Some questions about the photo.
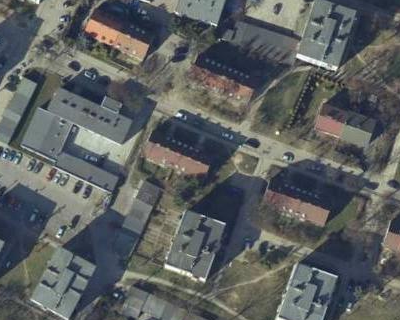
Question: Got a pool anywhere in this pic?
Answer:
No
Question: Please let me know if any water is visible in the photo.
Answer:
No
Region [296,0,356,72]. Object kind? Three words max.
building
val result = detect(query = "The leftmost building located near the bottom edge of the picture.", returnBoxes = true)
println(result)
[32,245,96,320]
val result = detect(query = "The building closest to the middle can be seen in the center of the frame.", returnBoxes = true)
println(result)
[144,128,214,179]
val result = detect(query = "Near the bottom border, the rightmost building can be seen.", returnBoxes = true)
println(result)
[276,264,337,320]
